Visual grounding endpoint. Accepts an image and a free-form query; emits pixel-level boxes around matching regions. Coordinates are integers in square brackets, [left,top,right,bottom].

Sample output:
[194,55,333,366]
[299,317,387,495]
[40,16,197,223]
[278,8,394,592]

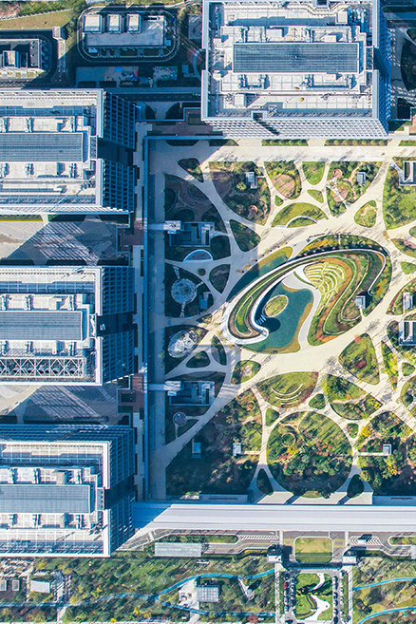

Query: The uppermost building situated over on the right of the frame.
[202,0,387,136]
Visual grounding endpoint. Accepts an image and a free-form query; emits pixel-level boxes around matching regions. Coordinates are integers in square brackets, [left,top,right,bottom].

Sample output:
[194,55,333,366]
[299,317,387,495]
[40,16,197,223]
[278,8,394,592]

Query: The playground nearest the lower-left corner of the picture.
[167,329,199,358]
